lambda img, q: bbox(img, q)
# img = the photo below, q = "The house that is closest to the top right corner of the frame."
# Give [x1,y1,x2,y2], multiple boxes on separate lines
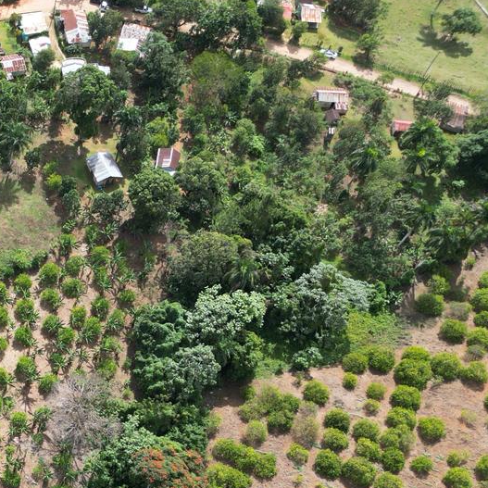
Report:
[443,102,468,136]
